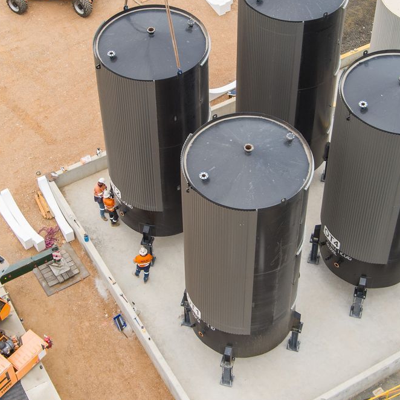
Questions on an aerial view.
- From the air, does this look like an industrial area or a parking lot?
industrial area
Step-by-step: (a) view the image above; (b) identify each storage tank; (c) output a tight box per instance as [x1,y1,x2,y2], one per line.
[367,0,400,51]
[171,108,316,371]
[232,0,348,171]
[92,2,213,247]
[305,46,400,299]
